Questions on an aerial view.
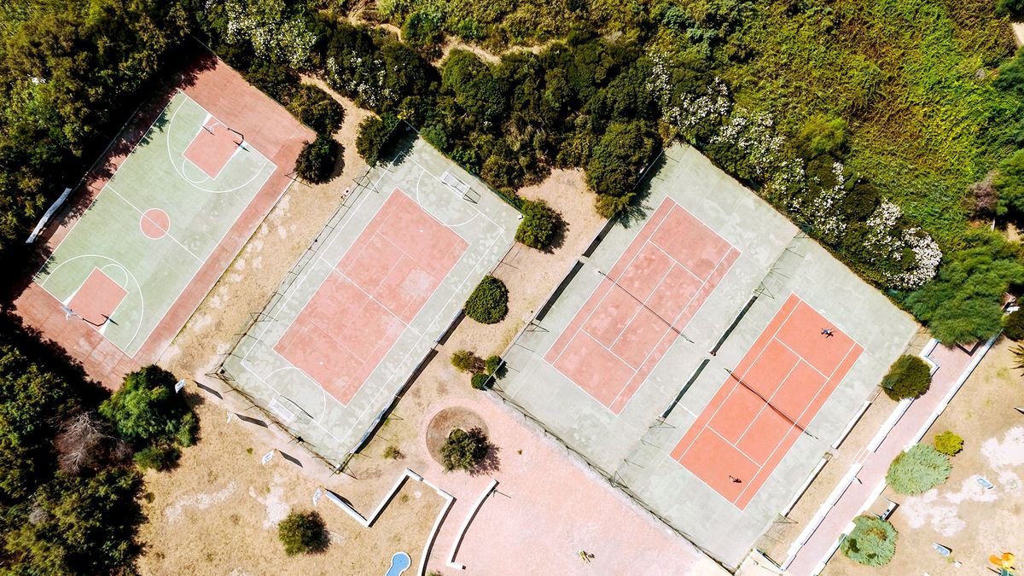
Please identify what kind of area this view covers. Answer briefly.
sports ground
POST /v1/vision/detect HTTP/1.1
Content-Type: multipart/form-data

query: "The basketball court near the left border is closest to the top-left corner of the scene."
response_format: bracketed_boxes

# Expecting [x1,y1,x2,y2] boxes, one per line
[0,41,315,393]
